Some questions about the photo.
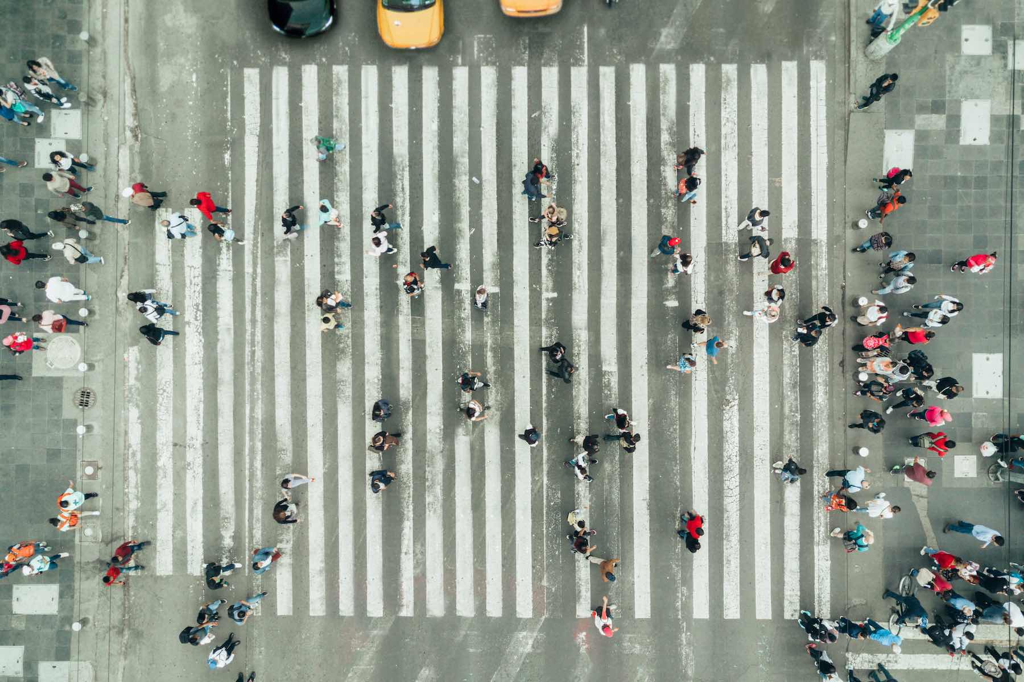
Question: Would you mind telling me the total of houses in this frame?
0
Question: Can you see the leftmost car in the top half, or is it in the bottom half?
top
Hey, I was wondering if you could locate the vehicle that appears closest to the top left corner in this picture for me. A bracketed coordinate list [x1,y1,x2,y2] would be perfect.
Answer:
[266,0,338,41]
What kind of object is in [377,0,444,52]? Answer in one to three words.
car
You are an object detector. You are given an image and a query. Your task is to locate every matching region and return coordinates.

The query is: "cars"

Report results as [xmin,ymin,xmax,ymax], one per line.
[501,0,561,21]
[266,0,338,41]
[377,0,444,52]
